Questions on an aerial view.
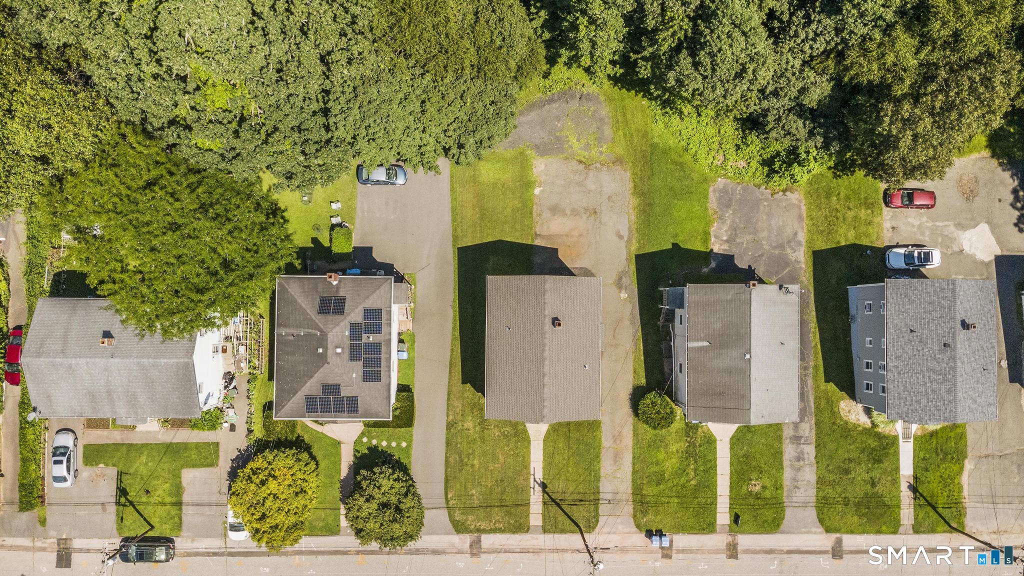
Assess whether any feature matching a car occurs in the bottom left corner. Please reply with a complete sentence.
Yes, a car is visible in the bottom left corner.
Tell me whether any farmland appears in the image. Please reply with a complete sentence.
No, no farmland is visible.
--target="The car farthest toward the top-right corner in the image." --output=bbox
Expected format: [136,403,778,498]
[881,186,938,212]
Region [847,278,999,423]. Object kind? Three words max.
house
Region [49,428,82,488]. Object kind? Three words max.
car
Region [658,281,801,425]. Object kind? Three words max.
house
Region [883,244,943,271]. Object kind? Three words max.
car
